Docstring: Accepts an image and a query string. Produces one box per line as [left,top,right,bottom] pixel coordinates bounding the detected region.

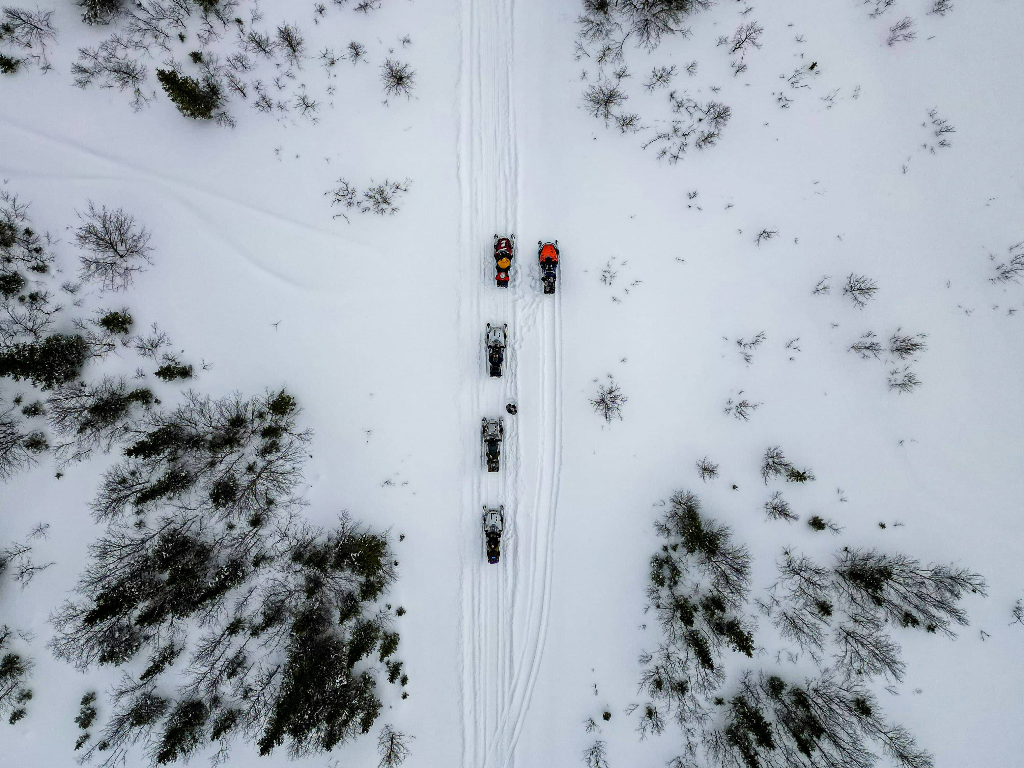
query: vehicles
[493,233,514,289]
[483,416,503,473]
[486,322,507,378]
[538,239,560,295]
[483,505,503,561]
